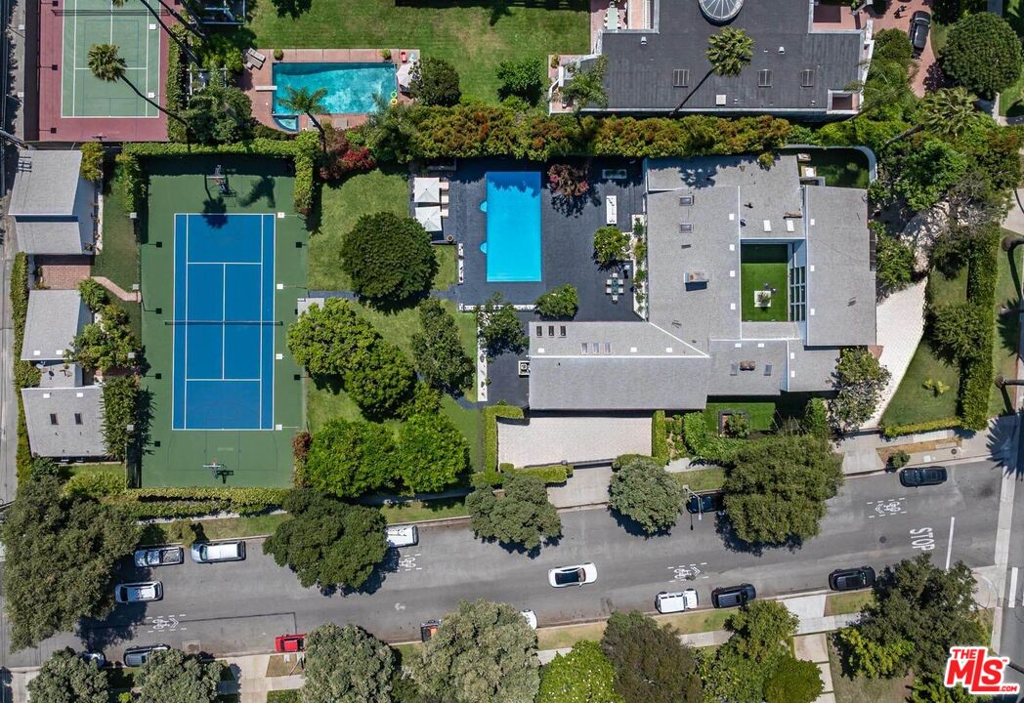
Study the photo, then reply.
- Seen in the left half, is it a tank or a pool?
pool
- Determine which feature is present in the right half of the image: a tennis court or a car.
car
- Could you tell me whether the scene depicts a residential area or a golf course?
residential area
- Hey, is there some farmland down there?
No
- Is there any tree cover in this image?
Yes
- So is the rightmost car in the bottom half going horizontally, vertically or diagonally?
horizontally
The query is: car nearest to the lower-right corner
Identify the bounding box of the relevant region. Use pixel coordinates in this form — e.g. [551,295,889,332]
[827,565,874,589]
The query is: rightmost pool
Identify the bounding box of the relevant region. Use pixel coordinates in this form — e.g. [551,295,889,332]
[480,171,542,283]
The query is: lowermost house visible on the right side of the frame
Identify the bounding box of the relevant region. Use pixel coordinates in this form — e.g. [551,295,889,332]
[528,156,877,410]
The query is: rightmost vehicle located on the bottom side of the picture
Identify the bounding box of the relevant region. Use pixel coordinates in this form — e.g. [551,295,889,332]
[898,464,948,488]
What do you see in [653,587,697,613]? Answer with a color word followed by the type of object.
white car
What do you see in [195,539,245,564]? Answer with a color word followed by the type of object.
white car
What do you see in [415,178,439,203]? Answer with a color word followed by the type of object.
white umbrella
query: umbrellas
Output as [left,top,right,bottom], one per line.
[415,178,439,203]
[390,62,413,85]
[416,206,442,231]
